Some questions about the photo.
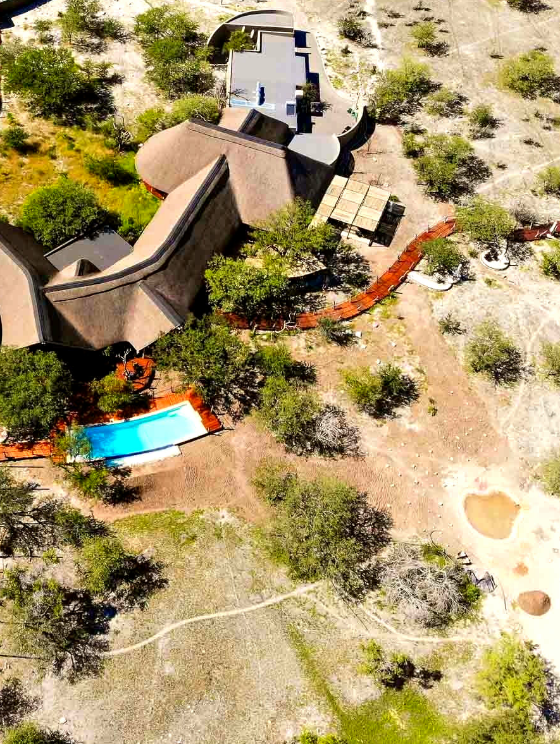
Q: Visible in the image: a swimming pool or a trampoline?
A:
swimming pool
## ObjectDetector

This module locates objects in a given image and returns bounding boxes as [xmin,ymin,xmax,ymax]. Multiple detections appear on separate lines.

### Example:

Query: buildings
[0,108,331,357]
[221,8,294,45]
